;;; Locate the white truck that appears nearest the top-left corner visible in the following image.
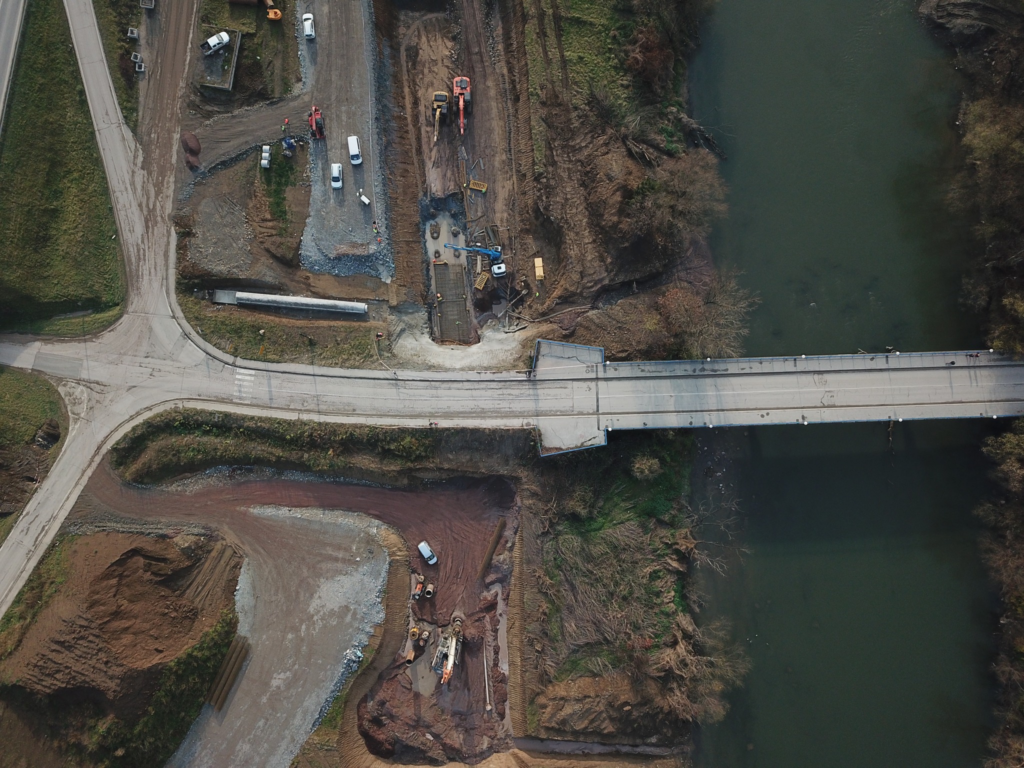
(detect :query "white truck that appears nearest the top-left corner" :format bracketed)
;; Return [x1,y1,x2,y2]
[199,32,231,56]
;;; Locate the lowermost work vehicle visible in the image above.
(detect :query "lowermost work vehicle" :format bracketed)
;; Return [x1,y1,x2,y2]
[412,582,425,603]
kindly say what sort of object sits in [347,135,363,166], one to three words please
vehicle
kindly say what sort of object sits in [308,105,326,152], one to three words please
work vehicle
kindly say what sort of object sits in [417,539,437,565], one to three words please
vehicle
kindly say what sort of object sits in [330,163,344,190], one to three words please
car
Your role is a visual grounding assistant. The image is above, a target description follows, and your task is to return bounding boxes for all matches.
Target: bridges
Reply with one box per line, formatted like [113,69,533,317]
[532,340,1024,456]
